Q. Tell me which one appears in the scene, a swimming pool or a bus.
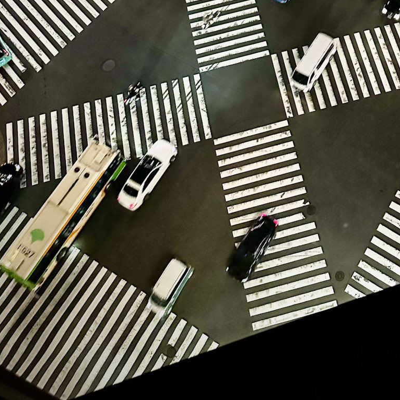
bus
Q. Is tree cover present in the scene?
No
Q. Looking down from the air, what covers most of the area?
paved ground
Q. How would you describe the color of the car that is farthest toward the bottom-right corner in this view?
black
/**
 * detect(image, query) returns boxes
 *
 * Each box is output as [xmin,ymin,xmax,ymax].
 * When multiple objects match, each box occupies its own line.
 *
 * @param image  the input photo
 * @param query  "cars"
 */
[119,145,174,210]
[0,162,30,223]
[226,207,282,284]
[384,0,400,22]
[150,258,194,315]
[291,29,340,92]
[0,38,13,66]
